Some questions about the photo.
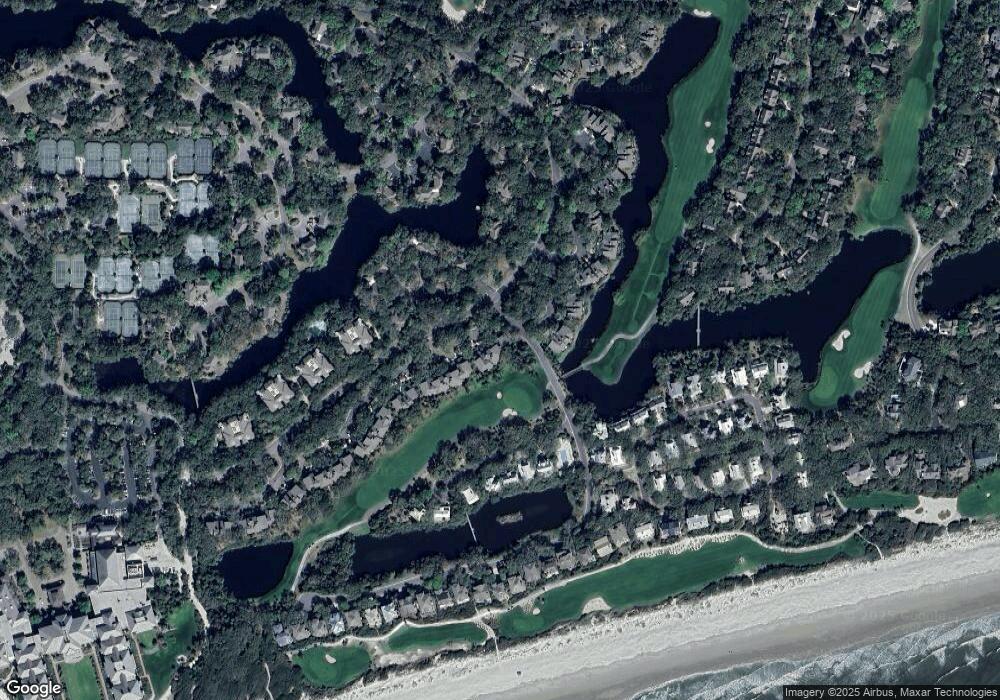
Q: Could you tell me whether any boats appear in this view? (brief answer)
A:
No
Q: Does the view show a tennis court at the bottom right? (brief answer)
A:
No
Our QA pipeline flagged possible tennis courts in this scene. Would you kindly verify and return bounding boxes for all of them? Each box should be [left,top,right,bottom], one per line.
[186,234,203,265]
[141,259,159,294]
[103,142,121,179]
[176,138,194,174]
[117,193,140,232]
[148,143,168,180]
[196,182,212,217]
[53,253,69,289]
[104,301,121,339]
[38,139,57,175]
[142,193,164,232]
[116,257,134,294]
[69,253,86,289]
[57,140,75,176]
[97,257,116,294]
[121,301,139,339]
[194,138,213,175]
[84,142,103,179]
[130,143,148,179]
[203,234,220,266]
[159,257,176,292]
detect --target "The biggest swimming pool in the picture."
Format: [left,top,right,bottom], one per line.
[557,443,571,467]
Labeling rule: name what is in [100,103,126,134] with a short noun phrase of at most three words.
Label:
house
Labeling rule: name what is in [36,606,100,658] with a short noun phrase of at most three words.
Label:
building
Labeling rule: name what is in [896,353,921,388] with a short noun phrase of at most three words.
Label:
house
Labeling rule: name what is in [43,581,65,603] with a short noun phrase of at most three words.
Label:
building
